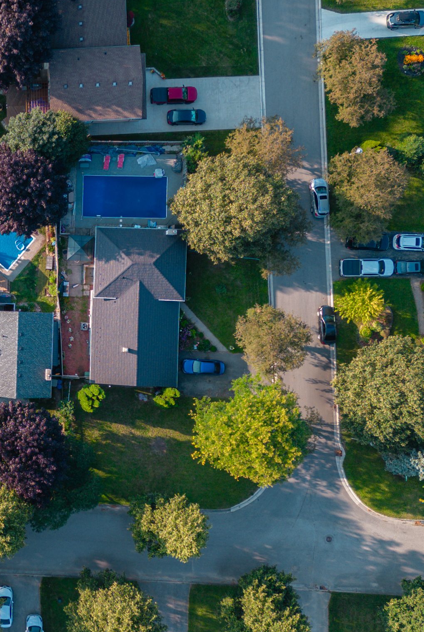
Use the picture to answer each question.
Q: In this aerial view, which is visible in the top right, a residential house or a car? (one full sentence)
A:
Visible in the top right is a car.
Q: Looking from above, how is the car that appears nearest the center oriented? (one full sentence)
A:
From this overhead view, the car that appears nearest the center appears to run horizontally.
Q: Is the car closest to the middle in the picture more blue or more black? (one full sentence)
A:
From above, the car closest to the middle appears blue.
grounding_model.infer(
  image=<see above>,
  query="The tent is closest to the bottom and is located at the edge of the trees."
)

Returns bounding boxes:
[66,235,93,261]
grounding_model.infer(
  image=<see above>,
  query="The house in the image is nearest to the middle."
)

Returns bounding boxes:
[88,227,187,388]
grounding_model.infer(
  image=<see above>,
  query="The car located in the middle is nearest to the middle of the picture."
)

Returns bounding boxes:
[181,357,225,377]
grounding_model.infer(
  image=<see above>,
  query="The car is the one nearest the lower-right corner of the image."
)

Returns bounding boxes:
[315,305,338,345]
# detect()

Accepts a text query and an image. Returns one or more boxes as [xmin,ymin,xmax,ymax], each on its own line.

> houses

[38,0,144,124]
[88,227,187,388]
[0,306,55,400]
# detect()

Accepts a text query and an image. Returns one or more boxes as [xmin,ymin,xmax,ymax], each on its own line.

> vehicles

[181,357,225,377]
[165,107,206,127]
[148,83,197,106]
[383,8,424,31]
[315,305,338,345]
[0,584,15,628]
[394,257,424,277]
[391,232,424,253]
[338,256,394,278]
[344,234,388,252]
[24,612,45,632]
